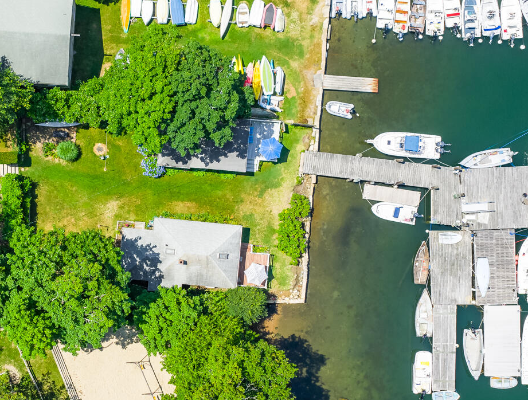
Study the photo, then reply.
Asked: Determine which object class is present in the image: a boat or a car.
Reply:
boat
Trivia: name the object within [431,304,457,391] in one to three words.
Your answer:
pier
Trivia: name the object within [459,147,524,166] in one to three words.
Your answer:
boat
